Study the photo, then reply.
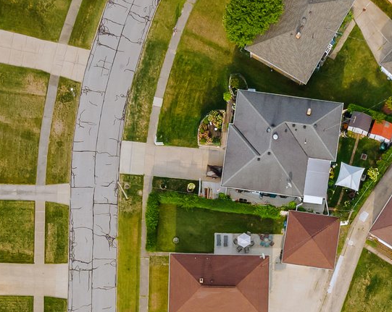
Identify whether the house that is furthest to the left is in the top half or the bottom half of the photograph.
bottom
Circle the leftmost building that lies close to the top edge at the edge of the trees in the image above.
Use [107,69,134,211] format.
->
[246,0,358,87]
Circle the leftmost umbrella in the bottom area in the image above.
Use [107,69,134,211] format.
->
[237,233,251,247]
